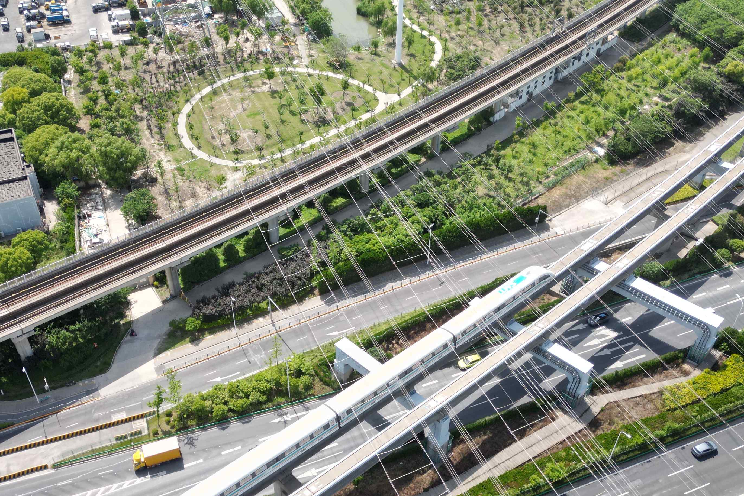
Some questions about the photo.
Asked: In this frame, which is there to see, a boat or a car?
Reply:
car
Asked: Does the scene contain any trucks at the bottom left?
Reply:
Yes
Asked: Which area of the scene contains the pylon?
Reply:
top left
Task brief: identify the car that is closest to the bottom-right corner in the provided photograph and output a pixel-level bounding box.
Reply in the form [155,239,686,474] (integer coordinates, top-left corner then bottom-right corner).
[691,441,718,458]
